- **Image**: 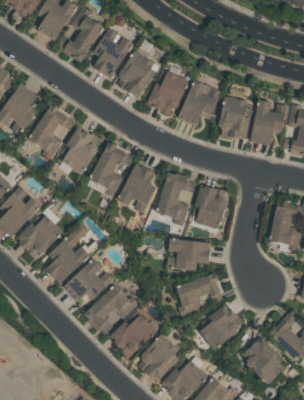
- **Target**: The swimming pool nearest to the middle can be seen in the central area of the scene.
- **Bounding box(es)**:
[150,220,170,232]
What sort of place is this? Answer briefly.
residential area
